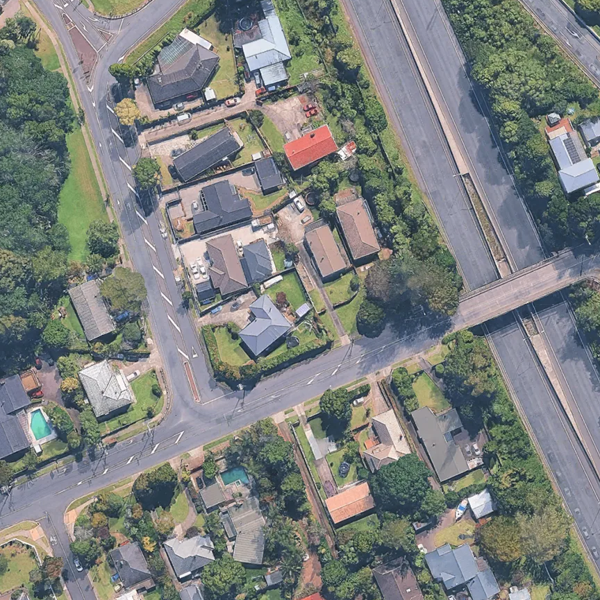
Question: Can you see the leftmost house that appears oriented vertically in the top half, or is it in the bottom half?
bottom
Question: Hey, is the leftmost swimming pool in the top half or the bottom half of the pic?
bottom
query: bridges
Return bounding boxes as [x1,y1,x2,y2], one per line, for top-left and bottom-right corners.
[448,238,600,333]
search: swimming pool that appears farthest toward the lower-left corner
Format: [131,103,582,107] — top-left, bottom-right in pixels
[30,408,51,441]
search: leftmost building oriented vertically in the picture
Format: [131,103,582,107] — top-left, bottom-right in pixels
[0,369,42,461]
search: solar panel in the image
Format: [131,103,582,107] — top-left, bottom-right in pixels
[564,137,580,164]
